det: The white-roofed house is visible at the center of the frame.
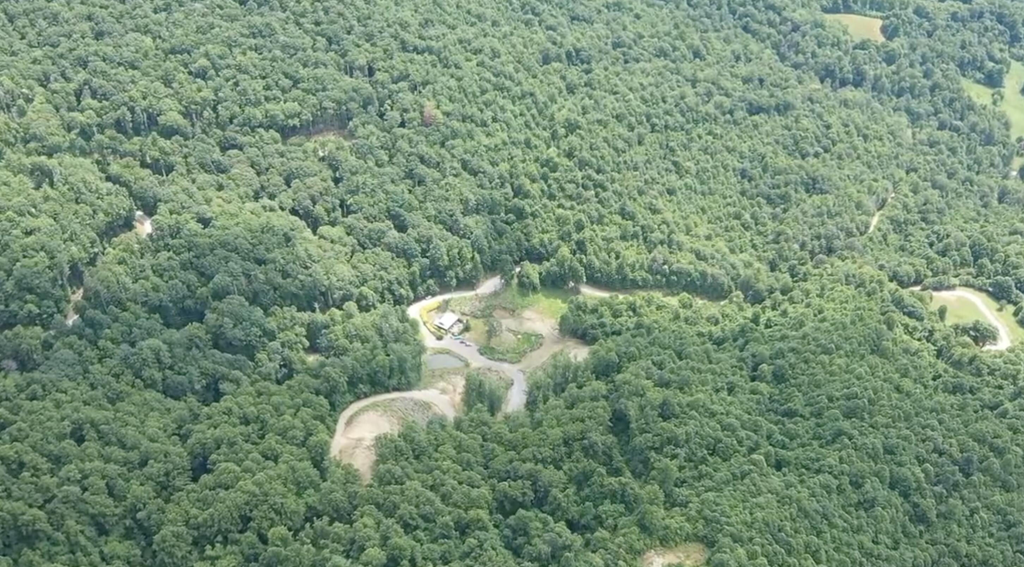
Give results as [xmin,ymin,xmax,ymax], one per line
[434,313,463,334]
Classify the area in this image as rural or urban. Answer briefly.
rural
